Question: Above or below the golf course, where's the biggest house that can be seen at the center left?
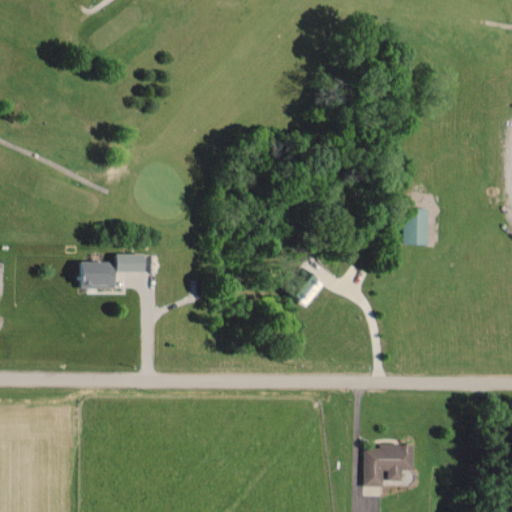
below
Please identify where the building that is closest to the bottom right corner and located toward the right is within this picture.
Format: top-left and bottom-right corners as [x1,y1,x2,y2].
[364,444,414,486]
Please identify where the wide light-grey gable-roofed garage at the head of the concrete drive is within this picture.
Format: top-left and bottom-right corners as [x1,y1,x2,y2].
[117,254,147,272]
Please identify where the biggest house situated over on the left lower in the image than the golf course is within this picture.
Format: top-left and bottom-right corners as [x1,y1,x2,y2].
[77,262,116,289]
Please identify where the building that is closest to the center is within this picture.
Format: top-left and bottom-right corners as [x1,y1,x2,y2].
[295,270,329,307]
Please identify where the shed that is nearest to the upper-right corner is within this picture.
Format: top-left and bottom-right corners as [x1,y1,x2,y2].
[402,208,428,246]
